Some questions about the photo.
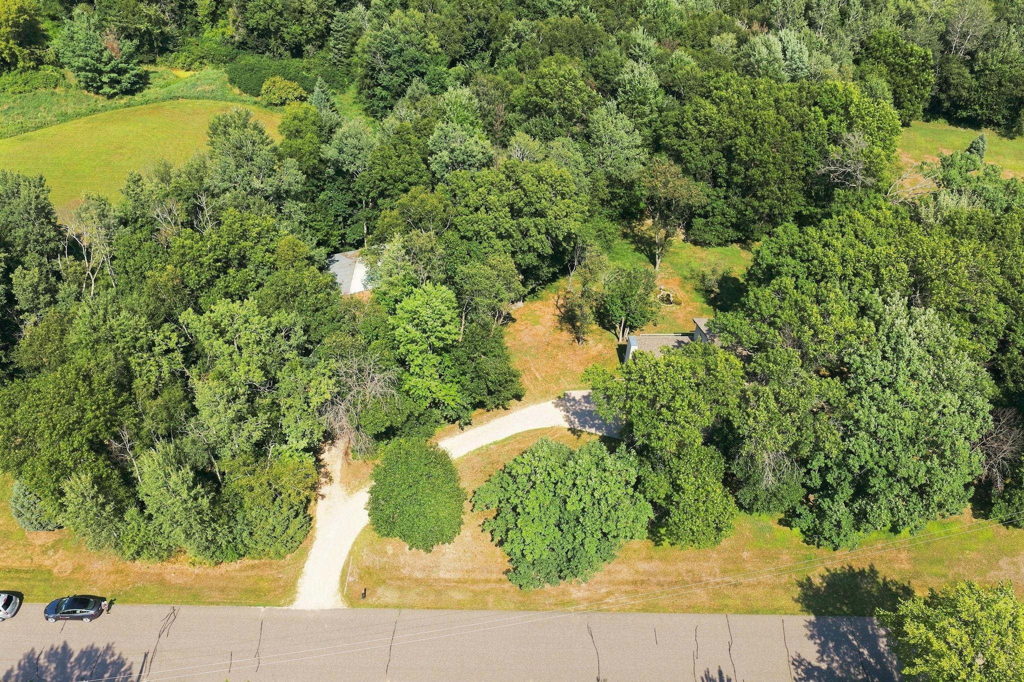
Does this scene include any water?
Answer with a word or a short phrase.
No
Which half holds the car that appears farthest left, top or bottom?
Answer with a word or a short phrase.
bottom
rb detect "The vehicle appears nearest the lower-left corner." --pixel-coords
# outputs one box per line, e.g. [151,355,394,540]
[0,594,22,622]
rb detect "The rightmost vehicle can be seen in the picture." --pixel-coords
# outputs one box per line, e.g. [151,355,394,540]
[43,593,104,624]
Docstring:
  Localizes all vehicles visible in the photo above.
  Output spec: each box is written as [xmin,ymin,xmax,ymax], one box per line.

[43,593,104,624]
[0,594,22,622]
